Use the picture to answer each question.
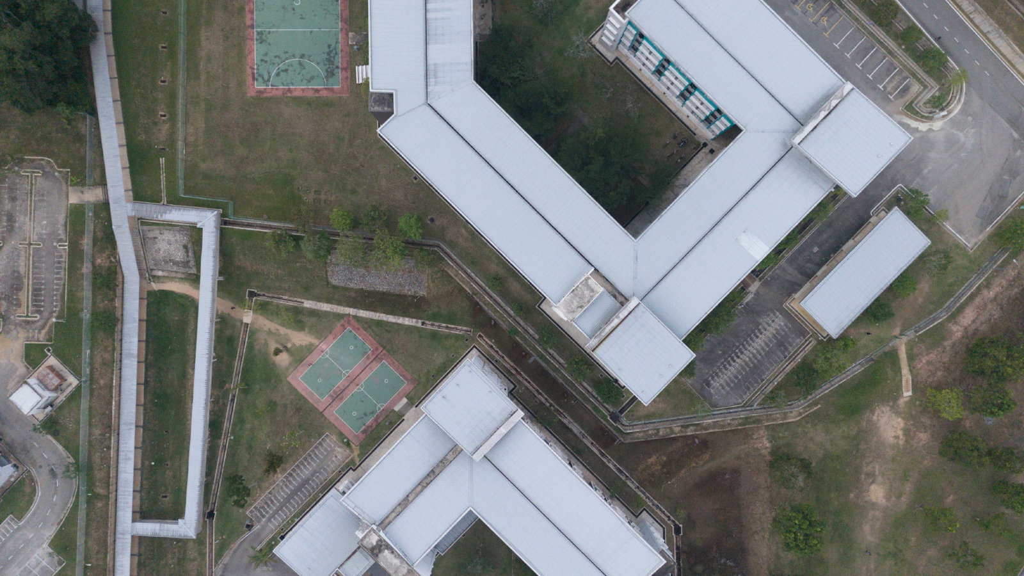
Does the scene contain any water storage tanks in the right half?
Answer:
No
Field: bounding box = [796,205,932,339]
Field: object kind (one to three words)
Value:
shed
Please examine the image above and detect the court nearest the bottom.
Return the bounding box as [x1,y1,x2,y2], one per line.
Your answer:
[287,315,418,446]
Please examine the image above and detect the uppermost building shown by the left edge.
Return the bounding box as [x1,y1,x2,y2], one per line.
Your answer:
[9,378,68,416]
